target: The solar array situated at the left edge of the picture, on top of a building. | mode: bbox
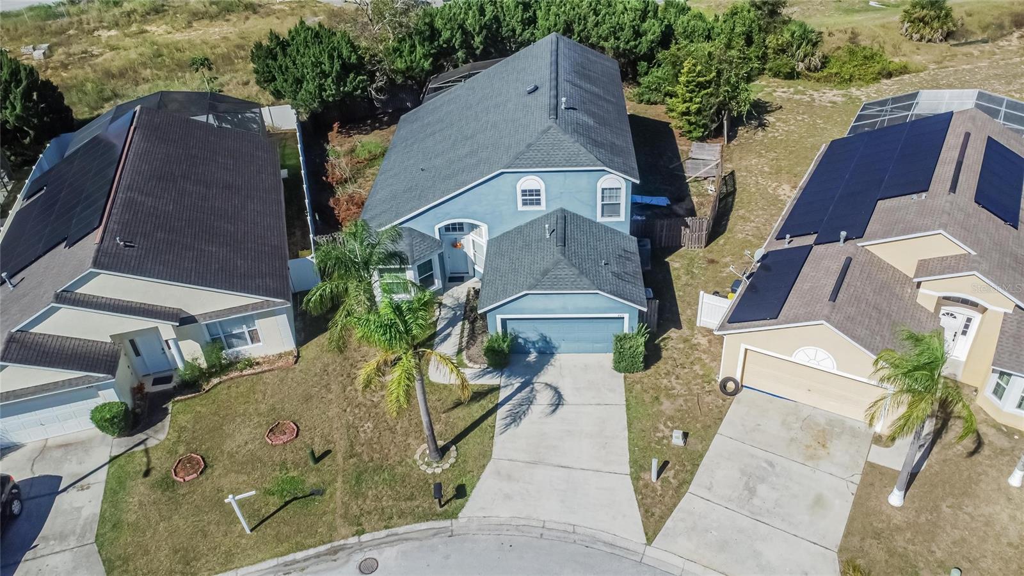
[0,111,130,280]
